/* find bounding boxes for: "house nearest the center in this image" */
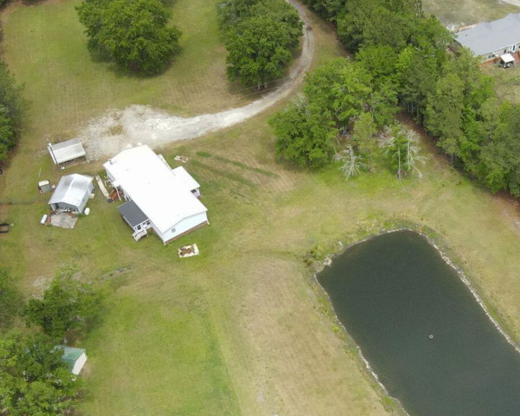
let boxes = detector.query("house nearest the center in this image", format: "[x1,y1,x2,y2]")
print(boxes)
[103,148,214,250]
